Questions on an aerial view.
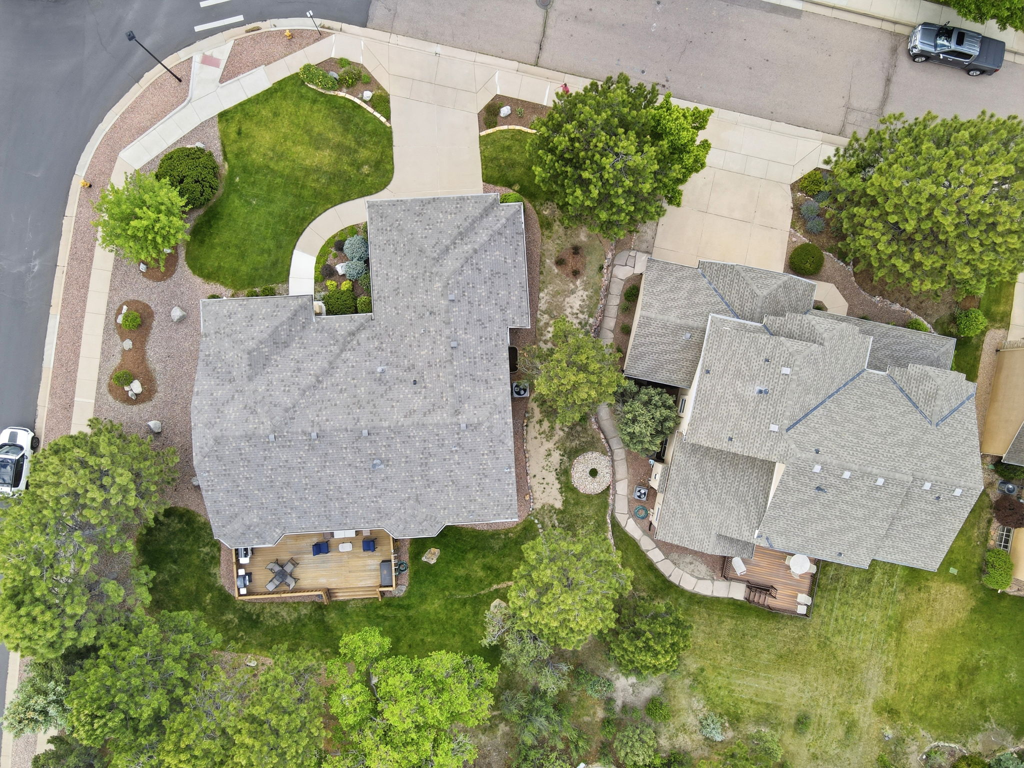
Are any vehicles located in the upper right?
Yes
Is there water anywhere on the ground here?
No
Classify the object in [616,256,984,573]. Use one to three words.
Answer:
house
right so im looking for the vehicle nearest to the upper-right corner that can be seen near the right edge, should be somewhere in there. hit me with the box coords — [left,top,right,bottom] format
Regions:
[900,20,1002,80]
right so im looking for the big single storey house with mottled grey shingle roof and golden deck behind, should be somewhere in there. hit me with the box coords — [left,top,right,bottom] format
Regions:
[190,191,532,551]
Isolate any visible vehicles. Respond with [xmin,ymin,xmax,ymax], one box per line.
[0,425,41,498]
[900,20,1002,80]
